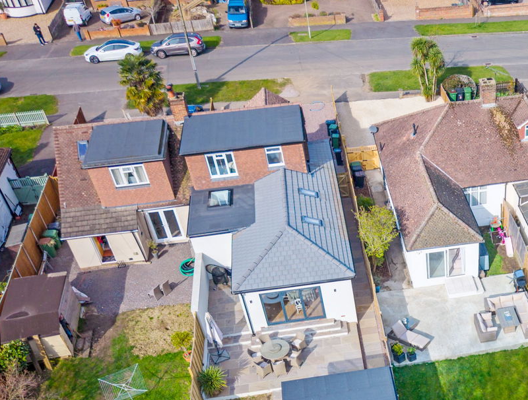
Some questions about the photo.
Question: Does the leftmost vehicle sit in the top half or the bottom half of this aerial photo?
top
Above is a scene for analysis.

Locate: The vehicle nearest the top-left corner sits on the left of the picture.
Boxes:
[60,0,88,26]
